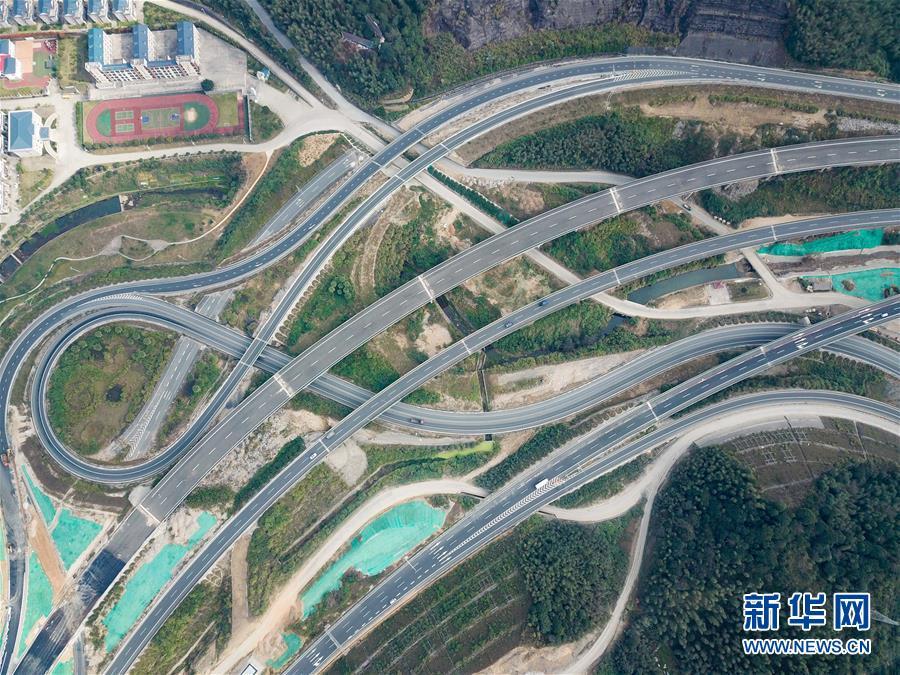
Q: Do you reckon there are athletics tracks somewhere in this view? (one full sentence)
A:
Yes, an athletics track appears in the view.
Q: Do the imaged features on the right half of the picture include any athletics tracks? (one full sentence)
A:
No, no athletics track can be made out on the right half of the picture.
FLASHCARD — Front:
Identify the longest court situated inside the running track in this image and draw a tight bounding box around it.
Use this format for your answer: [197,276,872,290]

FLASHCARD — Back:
[141,105,181,128]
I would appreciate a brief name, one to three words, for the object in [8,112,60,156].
building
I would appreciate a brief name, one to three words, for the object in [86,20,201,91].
building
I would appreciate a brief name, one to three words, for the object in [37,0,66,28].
house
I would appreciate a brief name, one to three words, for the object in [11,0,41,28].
house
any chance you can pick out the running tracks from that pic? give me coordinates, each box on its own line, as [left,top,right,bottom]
[86,93,218,145]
